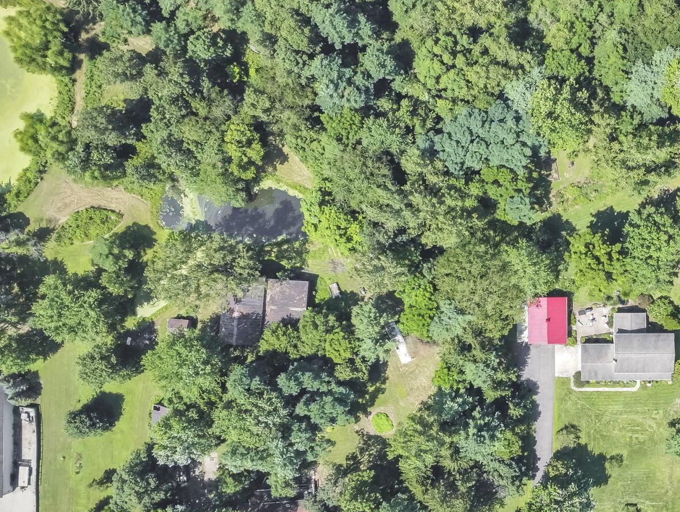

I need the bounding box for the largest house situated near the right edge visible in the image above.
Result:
[581,313,675,387]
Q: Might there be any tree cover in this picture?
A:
Yes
